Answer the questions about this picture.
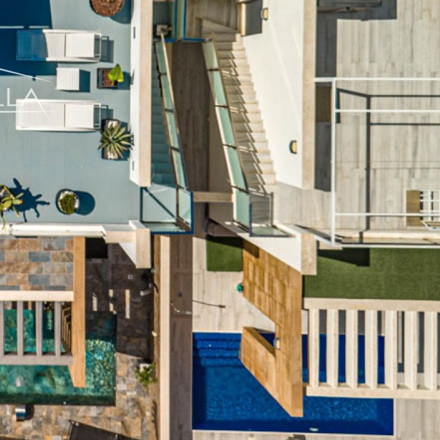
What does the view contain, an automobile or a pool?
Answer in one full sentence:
Visible in the photo is a pool.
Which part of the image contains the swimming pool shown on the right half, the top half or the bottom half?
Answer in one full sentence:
The bottom half of the photo is where the swimming pool shown on the right half is.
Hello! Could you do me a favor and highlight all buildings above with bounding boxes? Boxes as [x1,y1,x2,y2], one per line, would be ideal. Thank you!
[0,0,193,387]
[176,0,440,417]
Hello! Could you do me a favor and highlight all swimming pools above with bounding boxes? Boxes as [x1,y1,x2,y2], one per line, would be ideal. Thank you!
[0,309,116,397]
[194,334,393,435]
